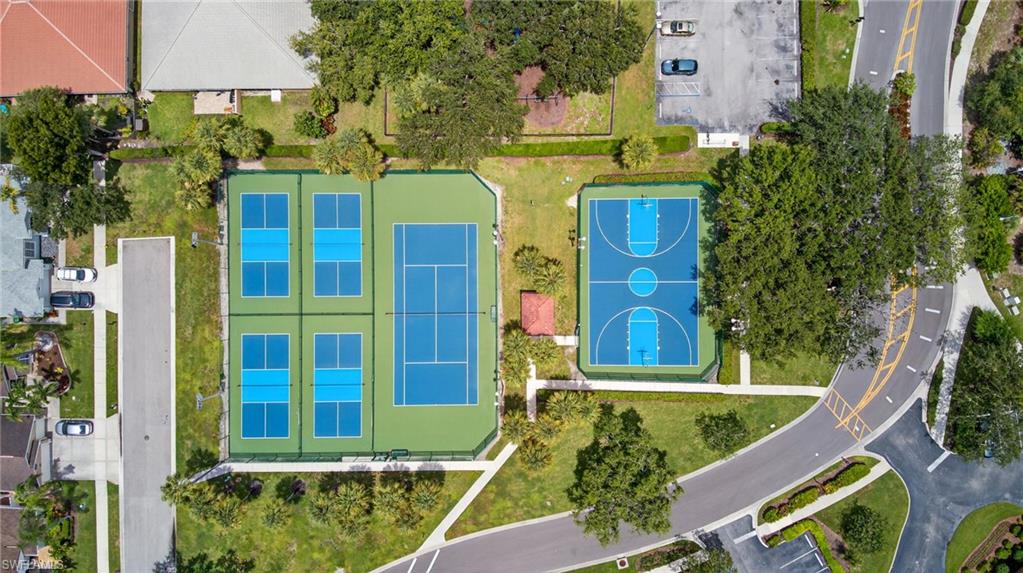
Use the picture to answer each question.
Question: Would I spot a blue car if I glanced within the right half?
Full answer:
Yes, I can see a blue car within the right half.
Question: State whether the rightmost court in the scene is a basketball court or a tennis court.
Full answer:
The rightmost court appears to be a basketball court.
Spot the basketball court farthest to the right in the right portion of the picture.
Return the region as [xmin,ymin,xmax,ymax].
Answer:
[579,186,716,376]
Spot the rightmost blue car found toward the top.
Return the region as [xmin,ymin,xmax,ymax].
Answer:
[661,55,699,74]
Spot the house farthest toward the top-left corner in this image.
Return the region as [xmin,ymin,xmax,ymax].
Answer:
[0,0,134,96]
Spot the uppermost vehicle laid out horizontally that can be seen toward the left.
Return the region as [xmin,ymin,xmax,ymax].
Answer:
[57,266,97,284]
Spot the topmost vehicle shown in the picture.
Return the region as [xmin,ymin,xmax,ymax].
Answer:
[660,17,697,35]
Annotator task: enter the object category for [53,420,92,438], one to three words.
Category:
car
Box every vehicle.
[50,290,93,309]
[661,55,699,74]
[57,266,97,284]
[53,420,92,438]
[660,17,697,35]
